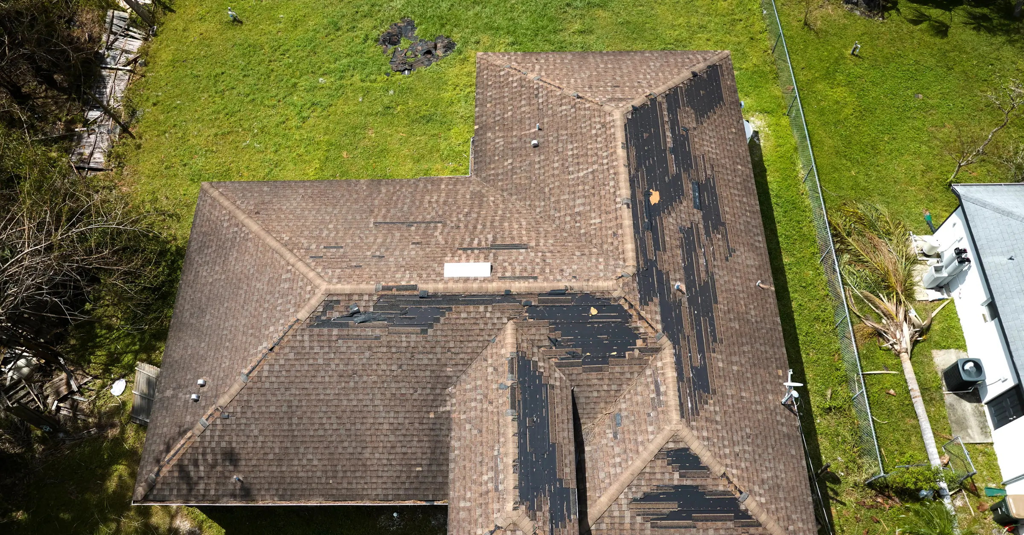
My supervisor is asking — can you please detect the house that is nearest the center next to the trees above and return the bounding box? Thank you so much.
[133,48,816,535]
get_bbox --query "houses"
[133,48,816,535]
[931,183,1024,535]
